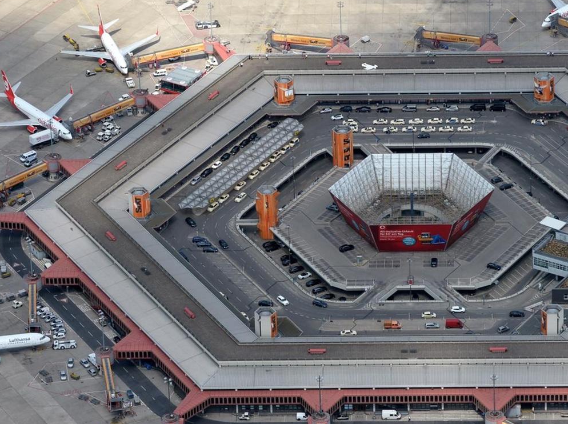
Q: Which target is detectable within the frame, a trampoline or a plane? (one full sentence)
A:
There is a plane in the scene.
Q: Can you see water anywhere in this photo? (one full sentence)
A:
No, there's no water in this view.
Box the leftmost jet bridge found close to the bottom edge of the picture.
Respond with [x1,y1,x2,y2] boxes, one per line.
[101,358,123,412]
